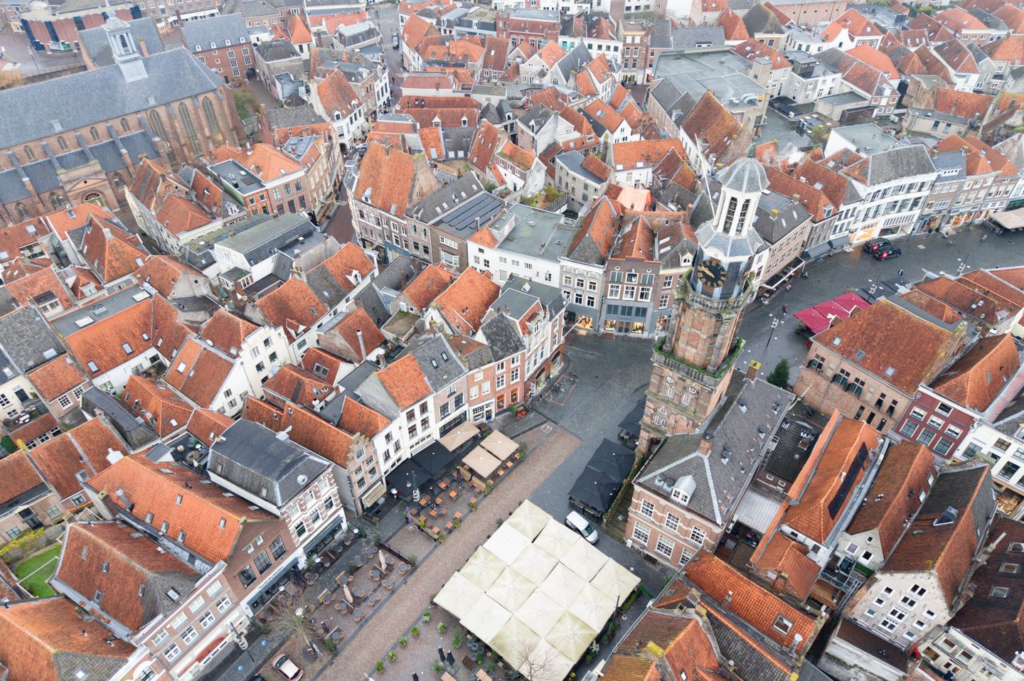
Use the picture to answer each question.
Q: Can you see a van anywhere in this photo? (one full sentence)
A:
Yes, the image includes a van.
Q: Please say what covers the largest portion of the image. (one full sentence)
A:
The scene is dominated by buildings.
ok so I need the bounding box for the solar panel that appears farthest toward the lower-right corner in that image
[833,437,870,518]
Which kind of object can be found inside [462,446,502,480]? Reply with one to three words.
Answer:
umbrella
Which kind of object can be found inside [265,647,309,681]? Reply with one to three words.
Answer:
car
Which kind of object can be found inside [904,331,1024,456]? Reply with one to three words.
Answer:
house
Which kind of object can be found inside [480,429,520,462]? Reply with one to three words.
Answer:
umbrella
